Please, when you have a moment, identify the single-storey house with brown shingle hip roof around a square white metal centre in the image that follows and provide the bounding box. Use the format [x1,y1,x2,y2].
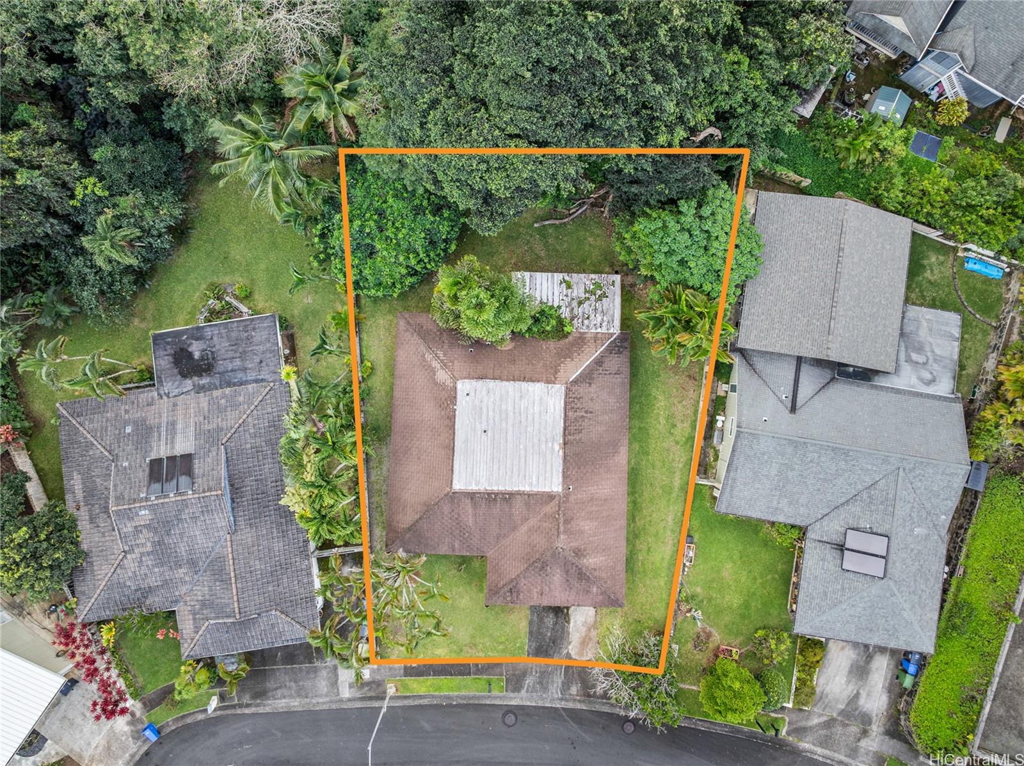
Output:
[385,311,631,608]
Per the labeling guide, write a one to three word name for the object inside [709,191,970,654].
house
